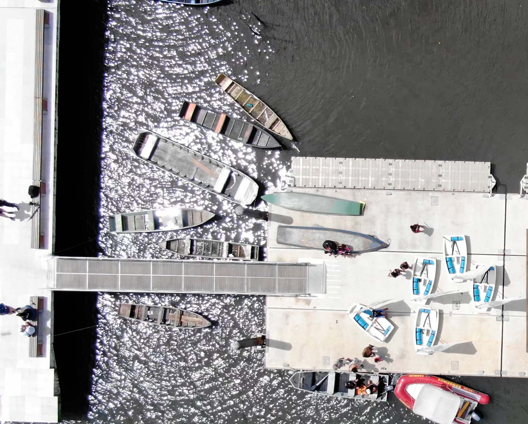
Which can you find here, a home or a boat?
boat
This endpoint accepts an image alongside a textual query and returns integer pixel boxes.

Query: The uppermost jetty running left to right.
[281,156,496,197]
